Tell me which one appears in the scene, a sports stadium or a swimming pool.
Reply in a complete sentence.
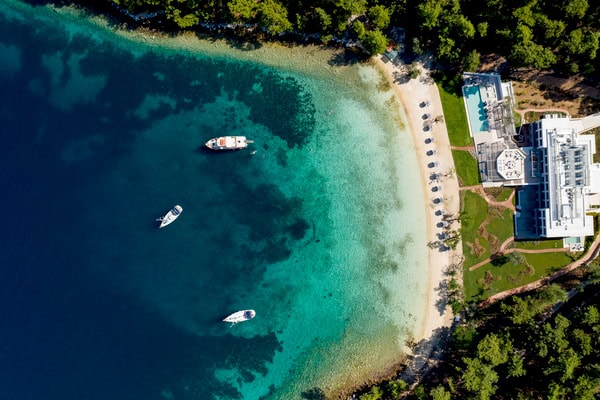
Of the two, only a swimming pool appears.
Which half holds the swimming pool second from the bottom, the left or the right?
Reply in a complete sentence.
The swimming pool second from the bottom appears in the right half of the scene.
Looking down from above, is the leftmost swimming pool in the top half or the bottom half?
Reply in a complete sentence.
The leftmost swimming pool sits in the top half of the picture.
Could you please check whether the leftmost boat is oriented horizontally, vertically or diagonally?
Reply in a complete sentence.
In this picture, the leftmost boat lies diagonally.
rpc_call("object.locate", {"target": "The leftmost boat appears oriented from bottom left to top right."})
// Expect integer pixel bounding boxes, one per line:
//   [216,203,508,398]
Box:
[157,203,185,228]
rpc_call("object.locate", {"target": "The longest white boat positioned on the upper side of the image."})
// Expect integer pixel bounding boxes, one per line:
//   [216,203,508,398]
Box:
[204,135,254,149]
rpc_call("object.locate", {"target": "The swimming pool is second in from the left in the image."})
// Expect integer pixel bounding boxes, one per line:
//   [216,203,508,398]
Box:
[514,187,544,238]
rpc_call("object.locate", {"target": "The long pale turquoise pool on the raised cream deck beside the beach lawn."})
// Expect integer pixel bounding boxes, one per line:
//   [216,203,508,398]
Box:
[462,83,514,147]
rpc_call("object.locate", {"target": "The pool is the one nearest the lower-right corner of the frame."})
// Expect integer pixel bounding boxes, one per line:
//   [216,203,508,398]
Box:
[562,237,584,252]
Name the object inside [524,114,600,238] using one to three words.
building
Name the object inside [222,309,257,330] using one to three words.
boat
